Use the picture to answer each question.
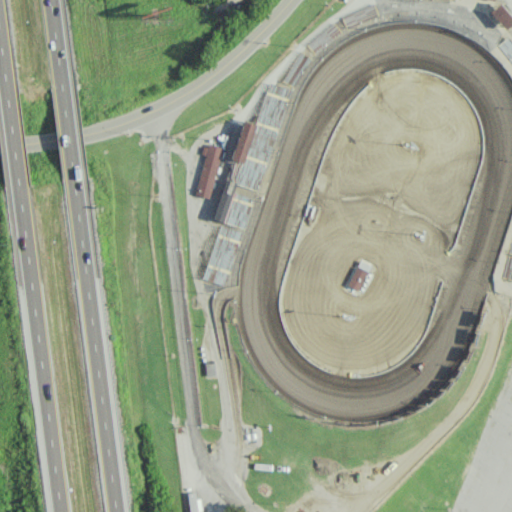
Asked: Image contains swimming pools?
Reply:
No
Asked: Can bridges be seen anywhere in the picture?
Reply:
Yes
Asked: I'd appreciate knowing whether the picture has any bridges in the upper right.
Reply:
No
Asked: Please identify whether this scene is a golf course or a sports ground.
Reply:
sports ground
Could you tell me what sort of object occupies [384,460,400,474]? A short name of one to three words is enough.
camper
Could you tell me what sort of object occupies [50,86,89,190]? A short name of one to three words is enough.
bridge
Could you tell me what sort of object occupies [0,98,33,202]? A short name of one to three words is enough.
bridge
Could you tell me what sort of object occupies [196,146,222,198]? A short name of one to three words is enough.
building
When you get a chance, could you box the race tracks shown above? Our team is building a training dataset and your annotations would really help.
[238,23,512,420]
